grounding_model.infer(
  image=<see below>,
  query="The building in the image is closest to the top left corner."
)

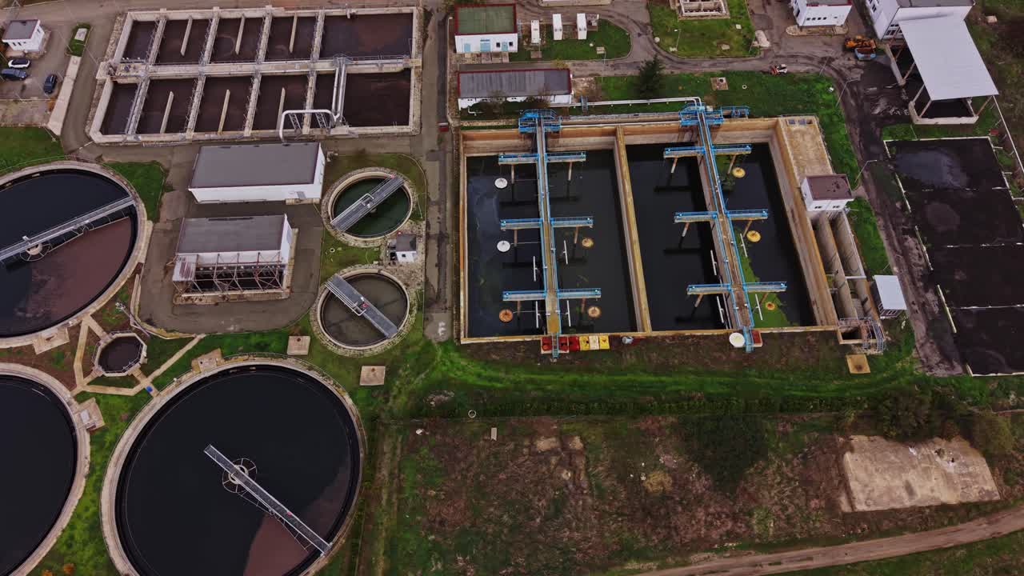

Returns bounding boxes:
[2,19,48,54]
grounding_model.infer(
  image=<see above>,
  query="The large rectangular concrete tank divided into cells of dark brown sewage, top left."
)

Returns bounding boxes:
[90,4,424,148]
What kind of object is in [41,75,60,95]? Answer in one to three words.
car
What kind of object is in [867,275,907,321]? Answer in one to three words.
shed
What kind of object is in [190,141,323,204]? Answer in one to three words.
building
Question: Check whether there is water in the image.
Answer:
Yes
